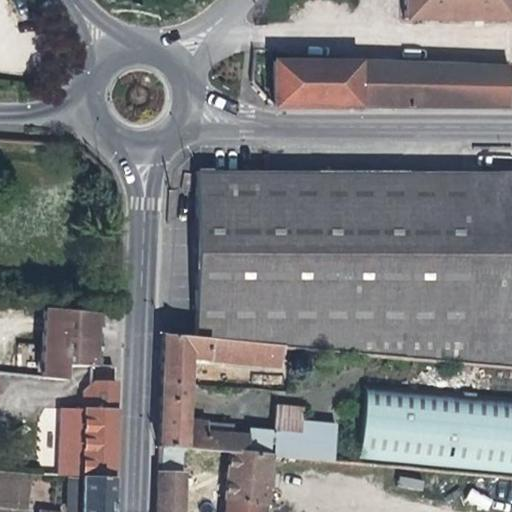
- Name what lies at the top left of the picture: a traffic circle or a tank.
traffic circle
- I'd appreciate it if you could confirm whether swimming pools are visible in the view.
No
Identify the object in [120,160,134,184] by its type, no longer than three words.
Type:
car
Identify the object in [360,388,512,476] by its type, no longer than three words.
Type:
building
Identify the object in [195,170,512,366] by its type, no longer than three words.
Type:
warehouse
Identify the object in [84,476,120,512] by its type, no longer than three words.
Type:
house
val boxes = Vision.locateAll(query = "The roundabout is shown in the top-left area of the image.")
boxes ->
[92,50,184,142]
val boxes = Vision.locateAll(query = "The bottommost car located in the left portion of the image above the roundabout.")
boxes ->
[160,28,182,44]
